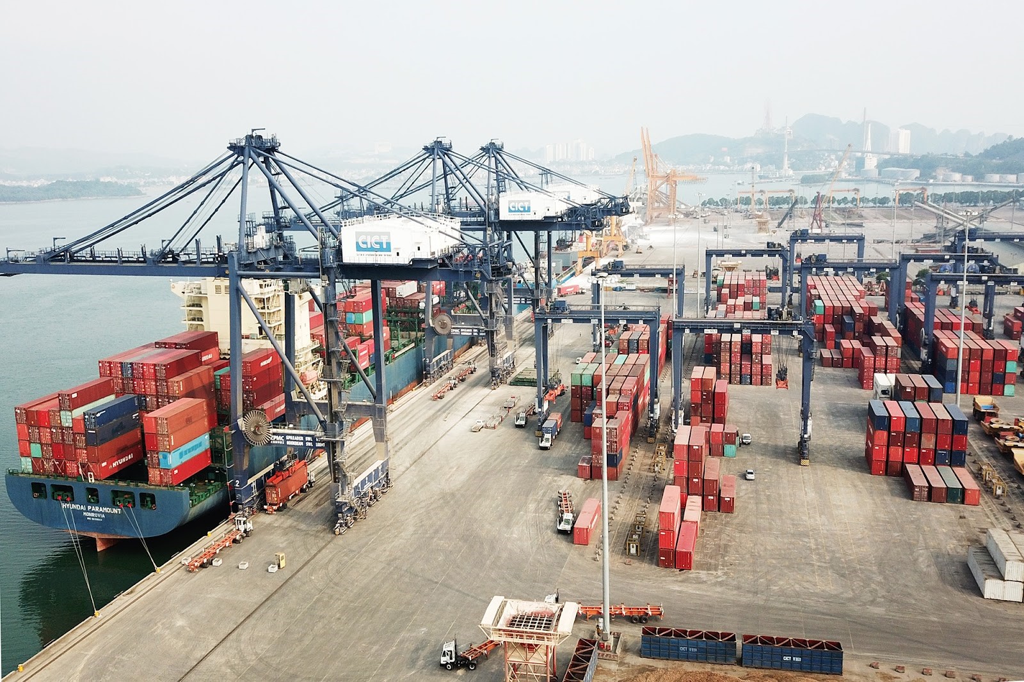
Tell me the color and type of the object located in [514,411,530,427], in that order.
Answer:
white vehicle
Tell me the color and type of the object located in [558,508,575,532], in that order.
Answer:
white vehicle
